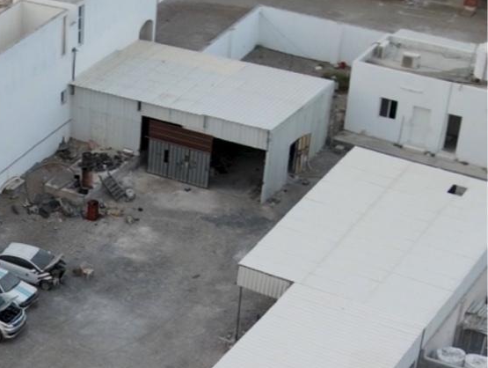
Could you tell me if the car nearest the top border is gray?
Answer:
Yes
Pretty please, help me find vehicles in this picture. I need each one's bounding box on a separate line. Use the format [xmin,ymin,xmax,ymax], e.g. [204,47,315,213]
[0,297,29,341]
[0,243,68,288]
[0,269,40,310]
